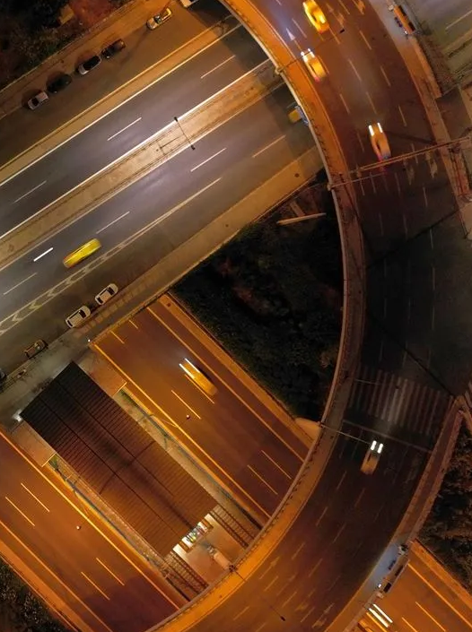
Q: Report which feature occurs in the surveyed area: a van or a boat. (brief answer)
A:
van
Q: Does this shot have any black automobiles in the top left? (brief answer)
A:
Yes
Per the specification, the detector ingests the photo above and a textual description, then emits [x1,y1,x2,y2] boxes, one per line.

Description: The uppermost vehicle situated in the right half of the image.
[303,0,326,29]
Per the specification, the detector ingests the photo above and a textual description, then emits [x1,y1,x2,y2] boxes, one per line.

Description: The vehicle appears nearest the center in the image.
[184,364,213,392]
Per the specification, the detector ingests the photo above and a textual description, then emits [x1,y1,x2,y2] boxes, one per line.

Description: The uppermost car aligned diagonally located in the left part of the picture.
[145,6,171,28]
